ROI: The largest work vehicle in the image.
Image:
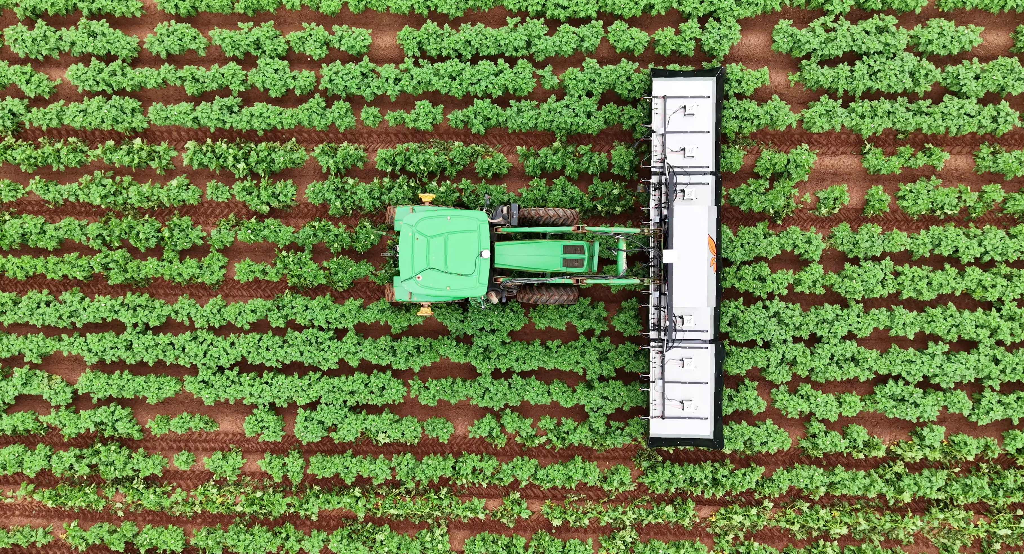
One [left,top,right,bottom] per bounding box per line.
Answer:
[378,192,599,316]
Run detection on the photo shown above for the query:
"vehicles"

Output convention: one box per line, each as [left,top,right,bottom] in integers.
[378,192,599,316]
[489,224,667,291]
